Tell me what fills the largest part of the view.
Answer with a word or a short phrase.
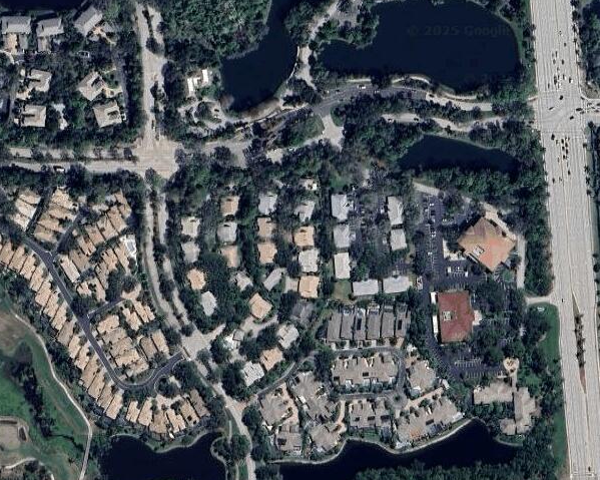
trees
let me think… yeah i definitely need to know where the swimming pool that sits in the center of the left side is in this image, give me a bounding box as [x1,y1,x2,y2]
[124,237,142,262]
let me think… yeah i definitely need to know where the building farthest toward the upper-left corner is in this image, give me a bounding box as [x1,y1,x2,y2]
[2,16,31,49]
